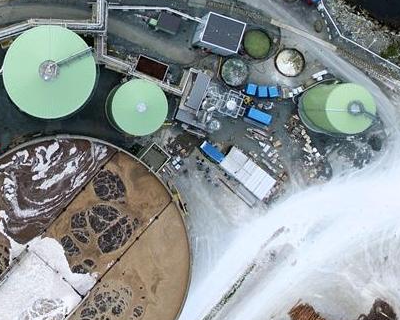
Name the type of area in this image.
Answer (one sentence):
What you see here is an industrial area.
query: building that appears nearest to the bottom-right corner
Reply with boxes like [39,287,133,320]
[227,157,276,200]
